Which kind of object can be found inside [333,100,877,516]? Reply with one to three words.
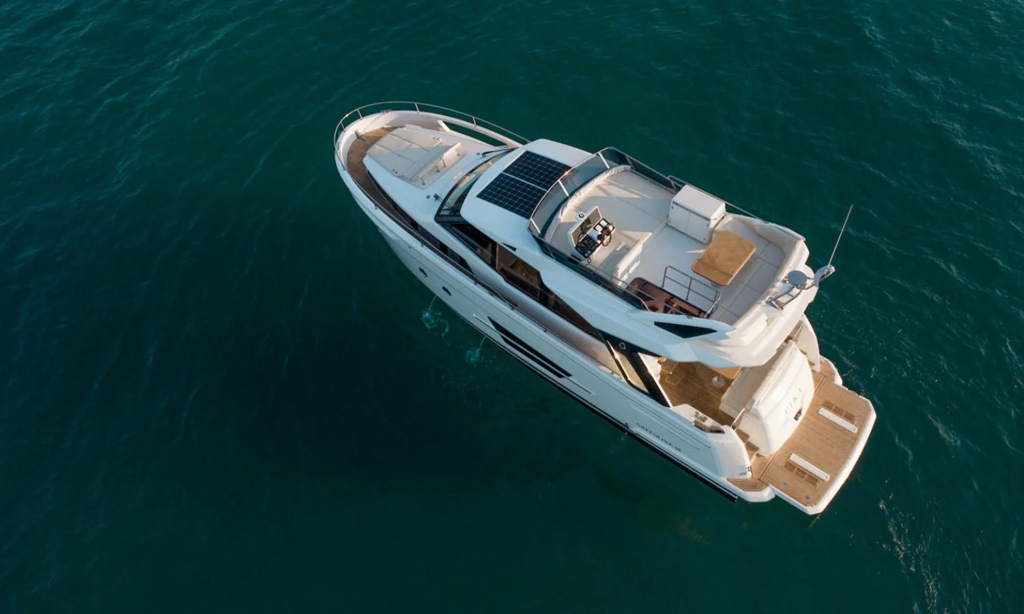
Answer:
boat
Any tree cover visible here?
No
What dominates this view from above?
water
